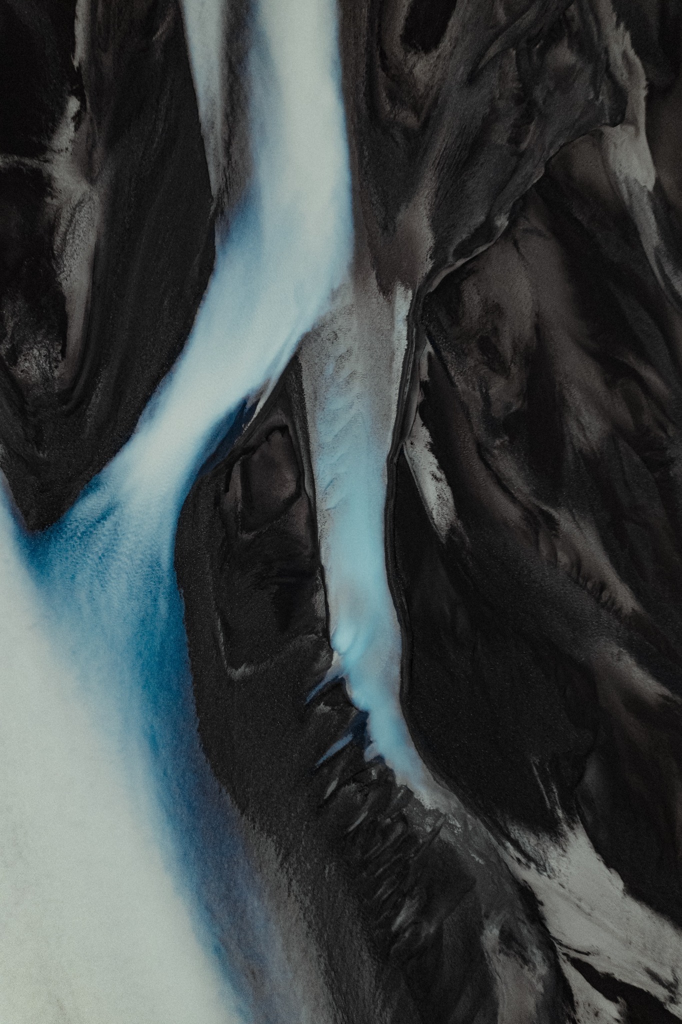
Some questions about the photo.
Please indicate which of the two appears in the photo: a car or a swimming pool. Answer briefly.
swimming pool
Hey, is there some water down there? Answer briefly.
Yes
